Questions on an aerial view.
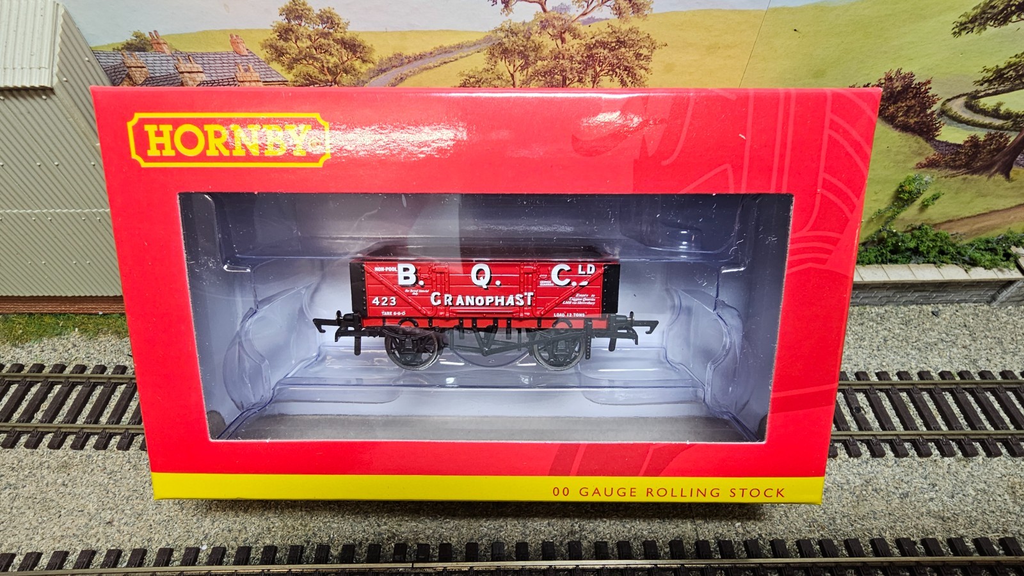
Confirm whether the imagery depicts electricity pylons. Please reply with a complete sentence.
No, this view has no electricity pylon in it.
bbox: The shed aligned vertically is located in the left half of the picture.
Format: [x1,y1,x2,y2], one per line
[0,0,127,313]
